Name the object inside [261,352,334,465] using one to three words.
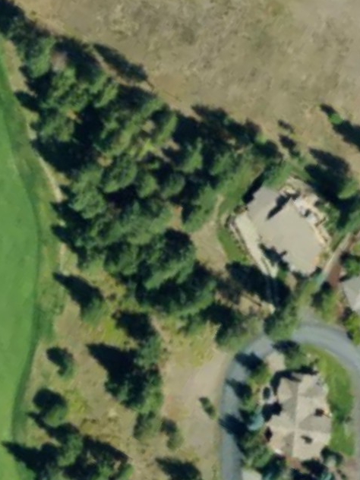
house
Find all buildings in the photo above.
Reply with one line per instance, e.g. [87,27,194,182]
[261,352,334,465]
[245,185,333,283]
[334,274,360,312]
